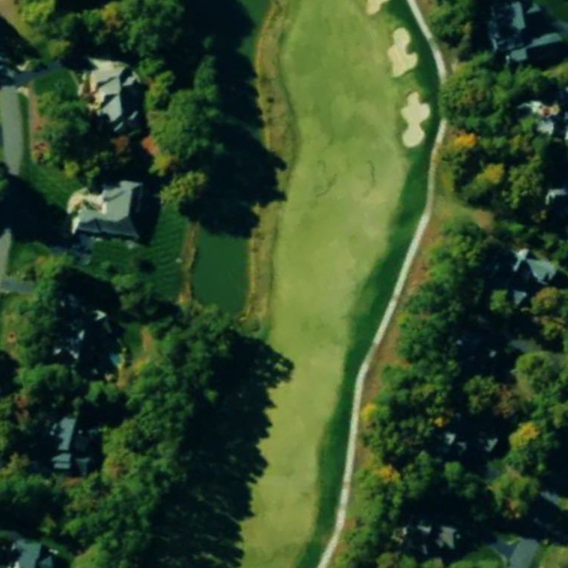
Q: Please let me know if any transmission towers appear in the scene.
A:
No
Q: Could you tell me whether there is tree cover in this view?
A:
Yes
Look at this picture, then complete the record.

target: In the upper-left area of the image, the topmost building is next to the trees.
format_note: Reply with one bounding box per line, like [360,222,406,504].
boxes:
[92,56,141,120]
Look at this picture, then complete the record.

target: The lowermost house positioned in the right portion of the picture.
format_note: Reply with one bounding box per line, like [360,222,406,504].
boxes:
[411,519,457,554]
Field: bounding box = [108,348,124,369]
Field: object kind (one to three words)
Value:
swimming pool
